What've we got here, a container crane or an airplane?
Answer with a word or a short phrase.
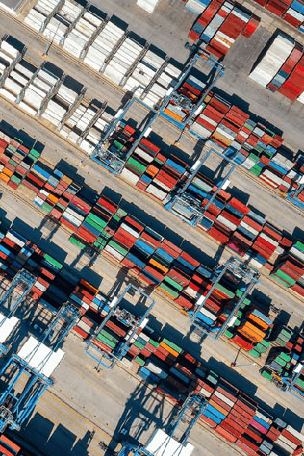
container crane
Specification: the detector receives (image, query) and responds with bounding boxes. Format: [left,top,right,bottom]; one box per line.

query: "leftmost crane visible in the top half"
[92,97,157,175]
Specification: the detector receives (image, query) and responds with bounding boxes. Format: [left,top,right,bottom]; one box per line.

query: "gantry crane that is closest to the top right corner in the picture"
[156,58,220,132]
